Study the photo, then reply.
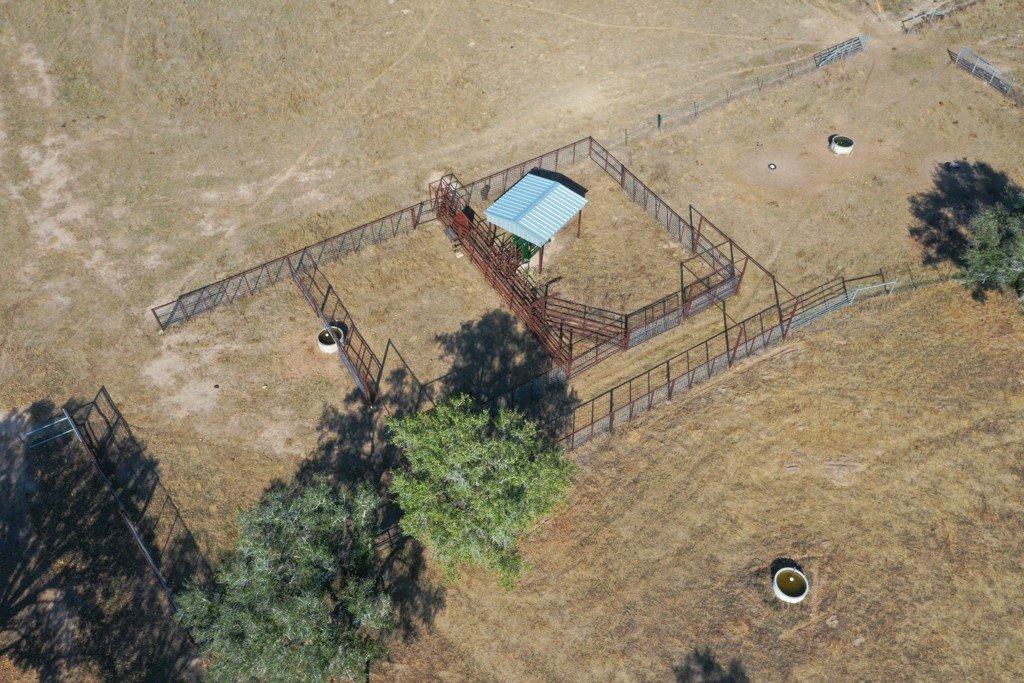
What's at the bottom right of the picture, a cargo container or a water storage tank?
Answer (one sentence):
Looking at the bottom right of the picture, you will find a water storage tank.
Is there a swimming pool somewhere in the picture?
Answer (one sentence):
No, I can't see a single swimming pool in this photo.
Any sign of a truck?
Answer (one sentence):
No, there's no truck here.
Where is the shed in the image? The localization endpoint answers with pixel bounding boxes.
[485,173,590,270]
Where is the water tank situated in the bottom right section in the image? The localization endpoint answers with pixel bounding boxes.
[769,565,808,604]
